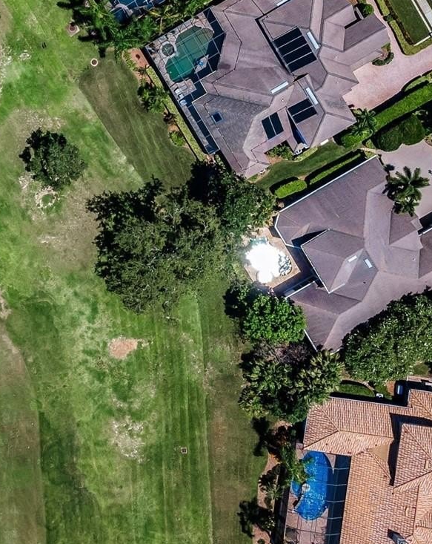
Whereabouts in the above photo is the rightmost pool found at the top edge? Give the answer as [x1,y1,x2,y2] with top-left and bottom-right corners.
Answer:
[160,26,215,84]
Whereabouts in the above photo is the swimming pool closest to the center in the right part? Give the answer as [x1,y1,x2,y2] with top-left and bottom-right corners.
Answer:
[244,237,293,284]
